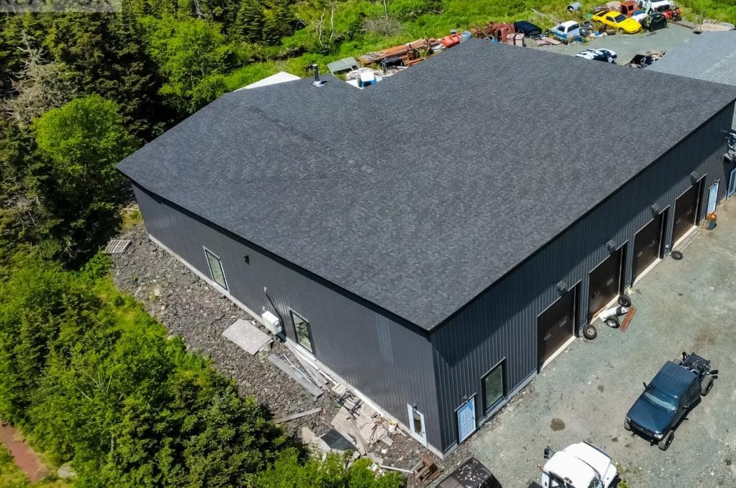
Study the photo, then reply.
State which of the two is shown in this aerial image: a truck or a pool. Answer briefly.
truck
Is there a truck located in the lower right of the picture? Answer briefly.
Yes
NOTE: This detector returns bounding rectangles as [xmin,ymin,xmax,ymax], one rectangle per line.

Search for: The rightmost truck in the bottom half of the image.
[623,350,724,449]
